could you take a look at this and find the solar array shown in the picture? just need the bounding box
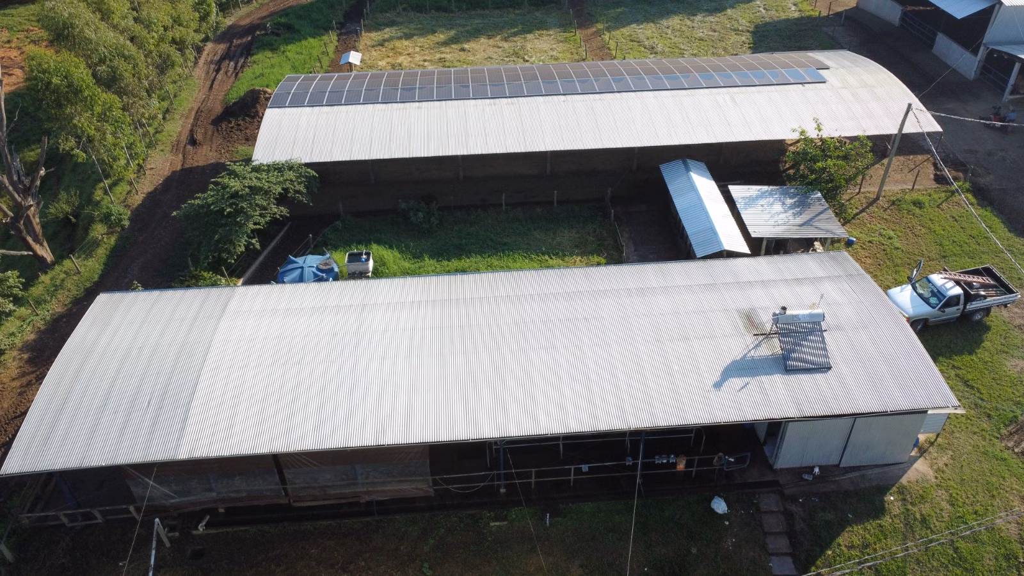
[270,51,828,106]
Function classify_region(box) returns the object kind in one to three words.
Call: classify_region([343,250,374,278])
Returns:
storage tank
